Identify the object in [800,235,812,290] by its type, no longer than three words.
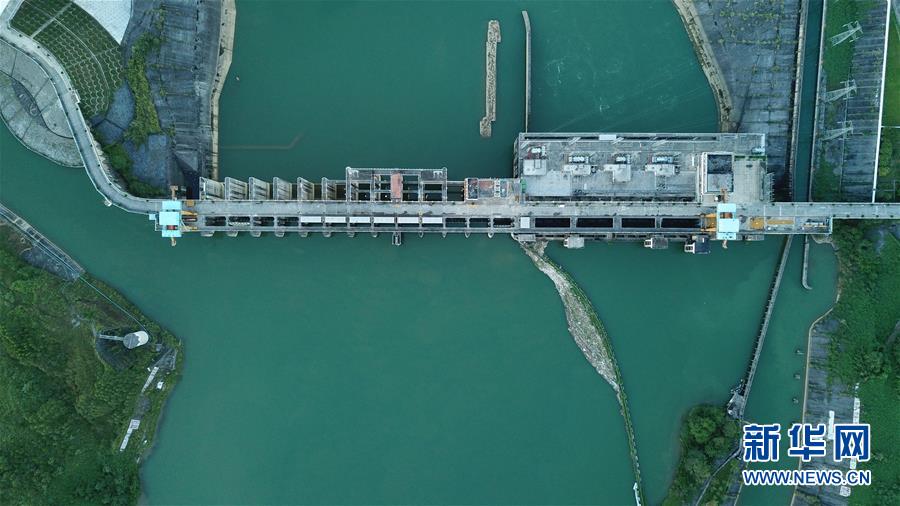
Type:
pier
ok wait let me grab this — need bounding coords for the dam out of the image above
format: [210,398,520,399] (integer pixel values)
[150,167,836,246]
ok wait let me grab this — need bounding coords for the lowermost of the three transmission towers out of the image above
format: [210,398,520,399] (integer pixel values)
[817,123,850,144]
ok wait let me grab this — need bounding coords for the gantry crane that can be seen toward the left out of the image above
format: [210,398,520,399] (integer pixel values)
[150,187,198,249]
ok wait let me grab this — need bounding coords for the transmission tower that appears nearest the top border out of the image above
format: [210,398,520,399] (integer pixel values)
[828,19,863,47]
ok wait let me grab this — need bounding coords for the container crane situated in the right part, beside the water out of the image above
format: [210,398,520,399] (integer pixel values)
[700,187,741,249]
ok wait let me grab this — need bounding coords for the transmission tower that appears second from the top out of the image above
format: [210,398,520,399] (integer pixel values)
[822,76,856,99]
